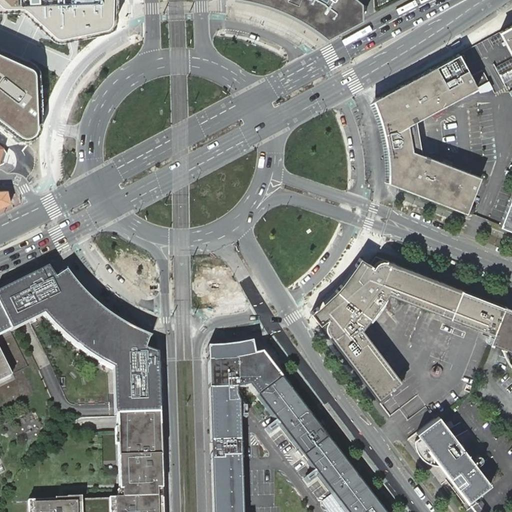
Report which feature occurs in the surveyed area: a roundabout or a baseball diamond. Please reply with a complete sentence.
The image shows a roundabout.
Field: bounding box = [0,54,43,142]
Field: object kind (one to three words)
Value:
building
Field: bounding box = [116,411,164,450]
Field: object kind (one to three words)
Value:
building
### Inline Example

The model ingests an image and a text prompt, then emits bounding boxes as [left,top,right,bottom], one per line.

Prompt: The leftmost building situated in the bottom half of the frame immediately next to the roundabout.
[0,264,162,412]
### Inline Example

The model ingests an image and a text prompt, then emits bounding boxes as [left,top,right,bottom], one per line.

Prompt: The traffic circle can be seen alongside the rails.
[64,30,311,256]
